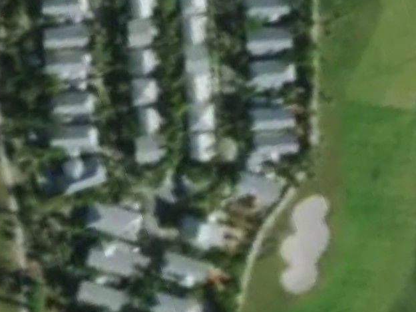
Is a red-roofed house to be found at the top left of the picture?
No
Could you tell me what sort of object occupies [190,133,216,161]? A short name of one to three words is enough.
house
